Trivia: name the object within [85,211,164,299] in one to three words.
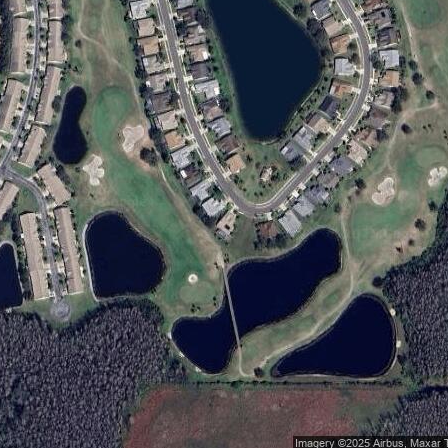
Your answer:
pond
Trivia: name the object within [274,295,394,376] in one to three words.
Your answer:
pond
